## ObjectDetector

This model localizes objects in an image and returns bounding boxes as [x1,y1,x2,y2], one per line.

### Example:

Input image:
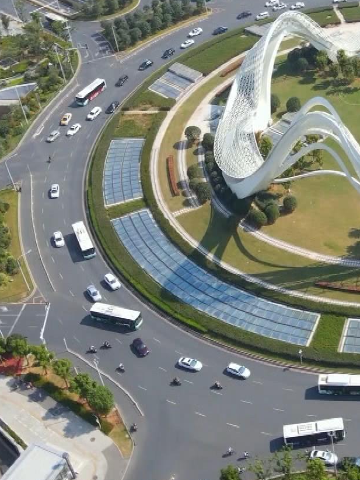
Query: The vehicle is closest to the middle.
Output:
[103,273,119,290]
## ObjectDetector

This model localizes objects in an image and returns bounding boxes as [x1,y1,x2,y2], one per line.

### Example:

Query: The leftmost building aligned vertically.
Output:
[207,105,224,138]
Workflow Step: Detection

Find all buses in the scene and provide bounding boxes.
[317,374,360,396]
[72,221,96,258]
[71,79,107,106]
[282,418,348,447]
[89,304,144,330]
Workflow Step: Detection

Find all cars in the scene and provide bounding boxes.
[272,1,287,10]
[310,452,338,466]
[107,102,119,112]
[50,184,60,198]
[139,59,153,69]
[188,26,202,36]
[47,130,59,141]
[255,10,269,19]
[129,339,151,355]
[177,356,201,372]
[213,25,228,34]
[337,456,360,469]
[181,38,195,47]
[53,232,63,246]
[162,48,176,57]
[225,362,251,377]
[291,0,305,9]
[68,125,80,136]
[236,11,252,19]
[116,75,129,85]
[103,273,119,290]
[88,107,100,118]
[84,285,101,302]
[265,0,279,7]
[60,114,72,125]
